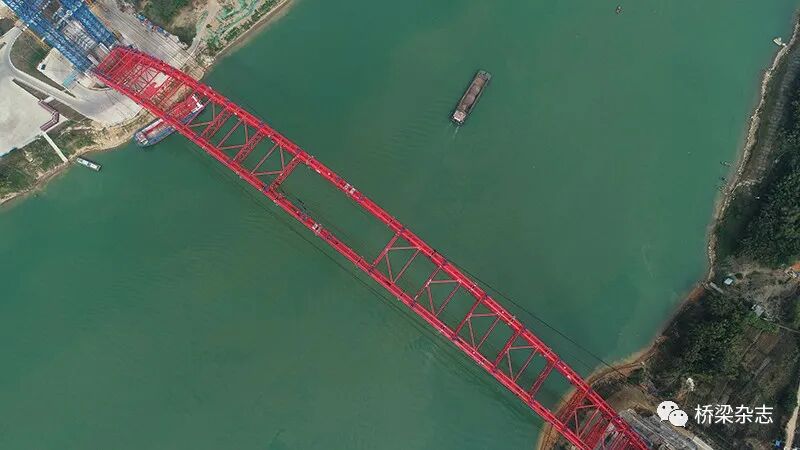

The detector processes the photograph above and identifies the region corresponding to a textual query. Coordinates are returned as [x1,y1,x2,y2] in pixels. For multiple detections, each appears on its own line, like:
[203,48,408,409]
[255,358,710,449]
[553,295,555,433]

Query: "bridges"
[92,44,652,450]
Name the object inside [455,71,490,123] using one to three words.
ship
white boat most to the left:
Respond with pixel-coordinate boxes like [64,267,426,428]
[77,157,101,170]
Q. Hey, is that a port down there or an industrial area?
port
